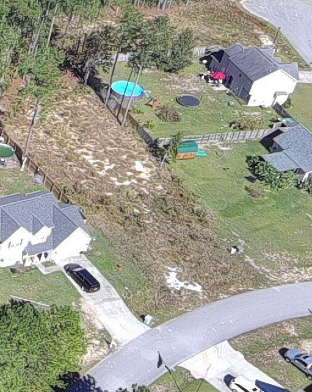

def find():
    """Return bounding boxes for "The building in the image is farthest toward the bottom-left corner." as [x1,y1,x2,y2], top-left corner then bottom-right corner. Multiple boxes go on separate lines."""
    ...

[0,193,96,270]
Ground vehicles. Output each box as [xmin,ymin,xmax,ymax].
[65,264,105,294]
[278,349,312,379]
[226,377,264,392]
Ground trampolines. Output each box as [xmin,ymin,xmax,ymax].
[175,95,202,109]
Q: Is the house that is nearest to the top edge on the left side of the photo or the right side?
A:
right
